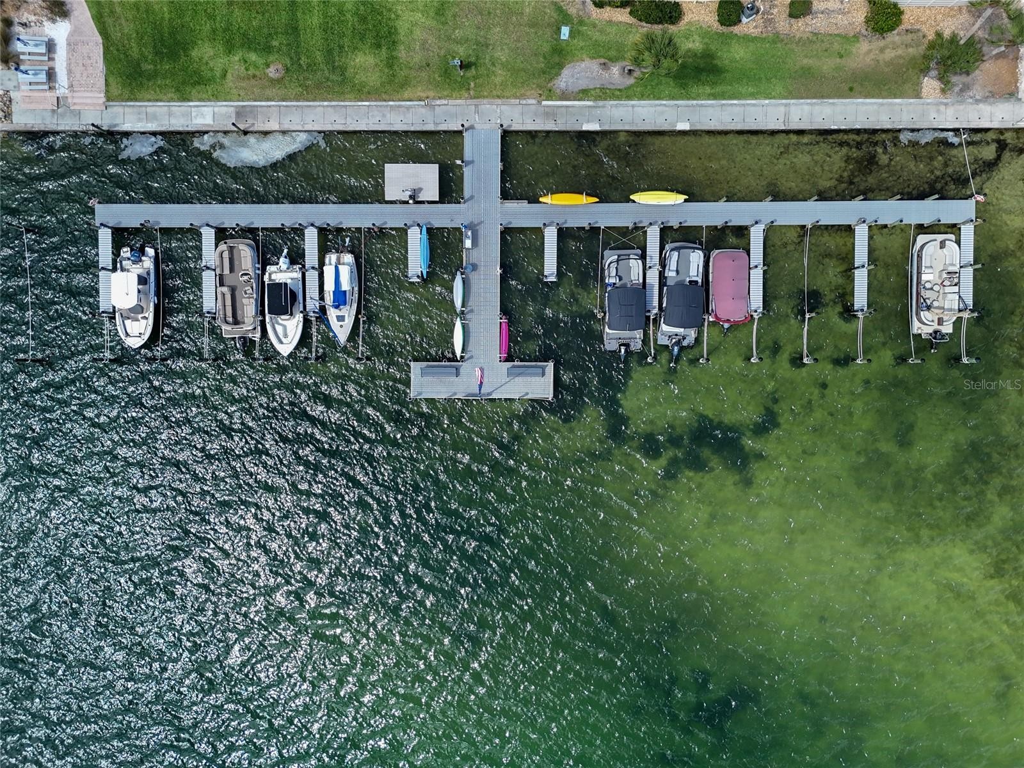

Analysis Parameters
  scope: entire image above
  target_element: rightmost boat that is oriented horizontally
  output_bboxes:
[630,190,689,204]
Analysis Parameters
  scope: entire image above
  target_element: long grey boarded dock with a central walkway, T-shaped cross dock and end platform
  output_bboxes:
[96,123,987,402]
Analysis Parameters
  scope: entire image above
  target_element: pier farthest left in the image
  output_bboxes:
[92,222,122,315]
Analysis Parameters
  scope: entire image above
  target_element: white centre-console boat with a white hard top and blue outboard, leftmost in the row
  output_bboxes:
[111,246,159,349]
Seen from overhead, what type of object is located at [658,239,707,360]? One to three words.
boat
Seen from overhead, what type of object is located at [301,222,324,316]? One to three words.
pier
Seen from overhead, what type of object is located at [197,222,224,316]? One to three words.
pier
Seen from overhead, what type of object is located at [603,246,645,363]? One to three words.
boat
